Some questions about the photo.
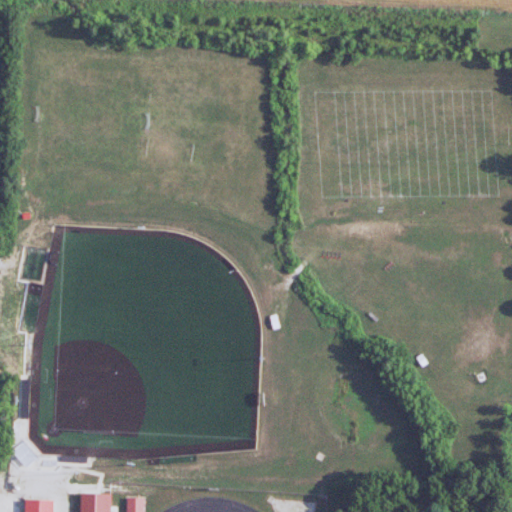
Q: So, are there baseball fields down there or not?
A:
Yes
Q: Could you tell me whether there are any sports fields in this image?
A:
Yes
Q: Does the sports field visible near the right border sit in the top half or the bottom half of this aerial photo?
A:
top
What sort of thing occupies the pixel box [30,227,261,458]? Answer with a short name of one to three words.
baseball field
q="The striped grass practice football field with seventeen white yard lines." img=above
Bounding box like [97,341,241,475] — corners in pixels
[314,88,510,200]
